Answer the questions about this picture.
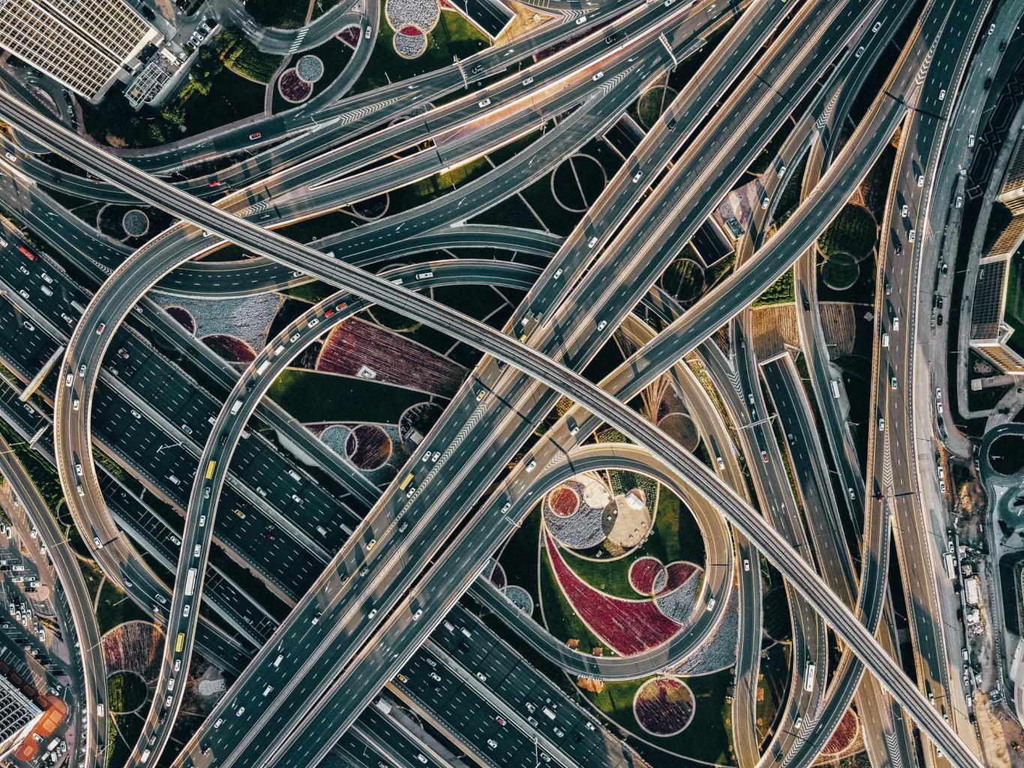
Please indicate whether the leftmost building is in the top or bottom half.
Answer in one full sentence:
It is in the bottom half that the leftmost building appears.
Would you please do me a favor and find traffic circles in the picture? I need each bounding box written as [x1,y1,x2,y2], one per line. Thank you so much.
[977,423,1024,485]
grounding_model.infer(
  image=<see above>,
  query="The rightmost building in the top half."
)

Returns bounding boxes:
[958,127,1024,376]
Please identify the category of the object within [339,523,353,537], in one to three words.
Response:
vehicle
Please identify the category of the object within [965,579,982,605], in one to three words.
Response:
building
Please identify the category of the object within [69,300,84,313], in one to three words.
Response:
vehicle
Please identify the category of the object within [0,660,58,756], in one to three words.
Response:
building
